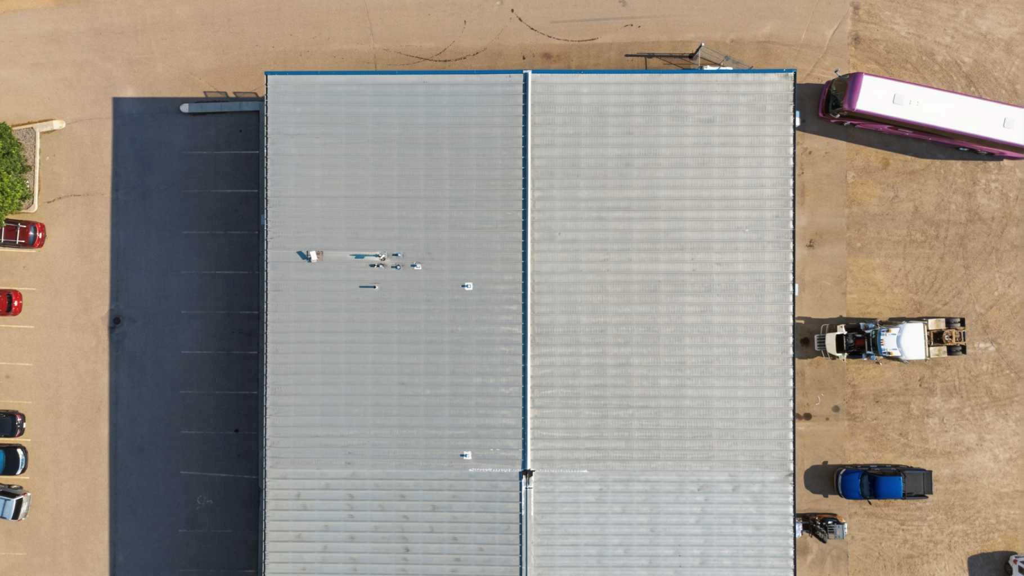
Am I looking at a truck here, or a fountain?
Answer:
truck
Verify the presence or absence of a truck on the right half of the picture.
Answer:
Yes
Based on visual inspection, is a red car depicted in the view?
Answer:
Yes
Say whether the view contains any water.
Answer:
No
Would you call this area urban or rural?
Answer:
urban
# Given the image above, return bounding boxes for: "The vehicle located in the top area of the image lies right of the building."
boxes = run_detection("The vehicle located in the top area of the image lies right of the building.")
[818,67,1024,159]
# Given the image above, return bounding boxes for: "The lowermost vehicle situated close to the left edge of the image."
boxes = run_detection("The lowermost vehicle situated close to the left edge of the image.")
[0,486,33,519]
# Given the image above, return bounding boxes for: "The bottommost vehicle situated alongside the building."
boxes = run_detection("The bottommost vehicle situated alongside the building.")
[795,511,847,551]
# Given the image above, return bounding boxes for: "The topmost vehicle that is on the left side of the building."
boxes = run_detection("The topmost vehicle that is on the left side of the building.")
[0,218,49,247]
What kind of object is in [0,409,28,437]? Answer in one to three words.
car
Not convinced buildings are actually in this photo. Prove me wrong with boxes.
[263,68,797,576]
